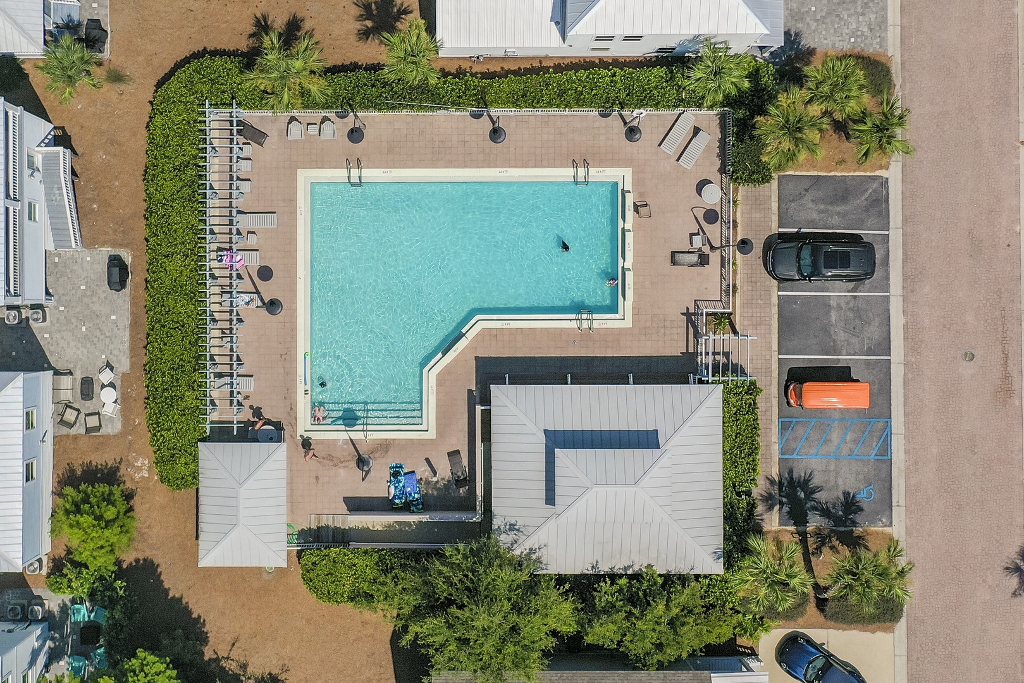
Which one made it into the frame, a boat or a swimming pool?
swimming pool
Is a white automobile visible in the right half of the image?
No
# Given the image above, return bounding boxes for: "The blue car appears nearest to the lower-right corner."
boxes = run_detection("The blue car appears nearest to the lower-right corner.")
[775,634,870,683]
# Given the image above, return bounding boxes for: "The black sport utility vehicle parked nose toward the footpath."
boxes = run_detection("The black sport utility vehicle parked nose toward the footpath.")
[764,236,876,286]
